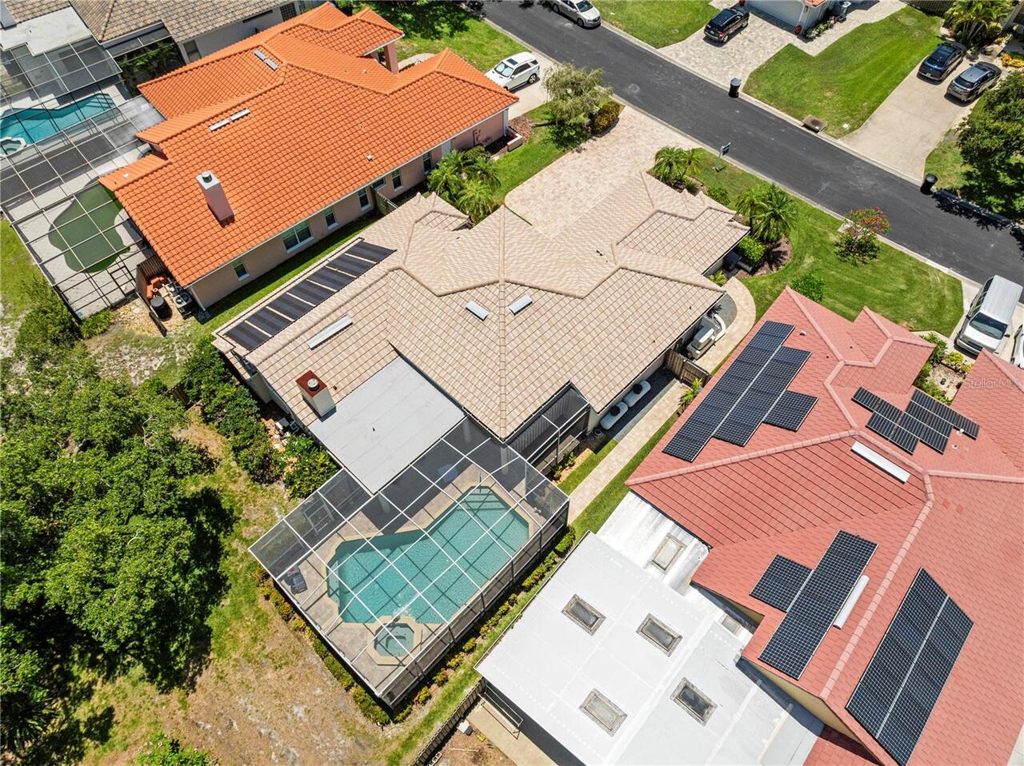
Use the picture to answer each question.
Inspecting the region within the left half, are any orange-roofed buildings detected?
Yes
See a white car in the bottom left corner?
No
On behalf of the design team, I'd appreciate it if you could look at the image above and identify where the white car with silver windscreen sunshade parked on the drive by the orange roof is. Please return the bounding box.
[480,45,544,89]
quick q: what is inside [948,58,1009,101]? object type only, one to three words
car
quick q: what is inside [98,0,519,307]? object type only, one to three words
house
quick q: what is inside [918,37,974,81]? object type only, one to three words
car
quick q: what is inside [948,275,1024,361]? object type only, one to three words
van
